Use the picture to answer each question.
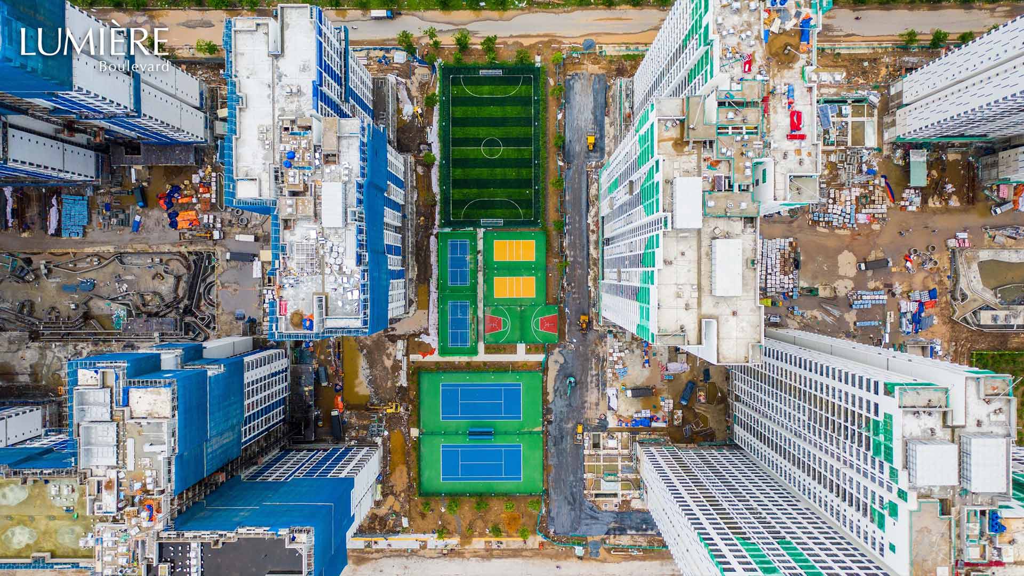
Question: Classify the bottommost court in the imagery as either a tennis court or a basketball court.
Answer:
tennis court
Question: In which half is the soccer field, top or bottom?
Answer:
top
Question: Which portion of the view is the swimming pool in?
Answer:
right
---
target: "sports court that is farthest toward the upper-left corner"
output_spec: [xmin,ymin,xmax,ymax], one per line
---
[439,231,477,293]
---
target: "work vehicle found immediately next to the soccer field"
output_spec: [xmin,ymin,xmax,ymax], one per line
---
[413,101,427,132]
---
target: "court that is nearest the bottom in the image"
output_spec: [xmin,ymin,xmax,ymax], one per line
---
[419,436,543,497]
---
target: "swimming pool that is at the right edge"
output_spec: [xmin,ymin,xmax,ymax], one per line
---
[951,248,1024,332]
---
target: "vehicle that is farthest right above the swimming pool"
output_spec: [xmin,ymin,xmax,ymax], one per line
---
[994,197,1023,215]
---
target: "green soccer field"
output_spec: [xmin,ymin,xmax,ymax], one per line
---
[441,66,539,227]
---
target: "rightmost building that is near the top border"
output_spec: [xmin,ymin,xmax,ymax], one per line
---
[901,14,1024,142]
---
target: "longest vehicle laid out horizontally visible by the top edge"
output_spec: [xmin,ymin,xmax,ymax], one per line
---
[367,5,393,17]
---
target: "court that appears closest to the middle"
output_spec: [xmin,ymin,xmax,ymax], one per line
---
[484,269,546,305]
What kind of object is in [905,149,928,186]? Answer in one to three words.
shed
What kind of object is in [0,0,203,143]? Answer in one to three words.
building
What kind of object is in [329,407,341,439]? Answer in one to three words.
vehicle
